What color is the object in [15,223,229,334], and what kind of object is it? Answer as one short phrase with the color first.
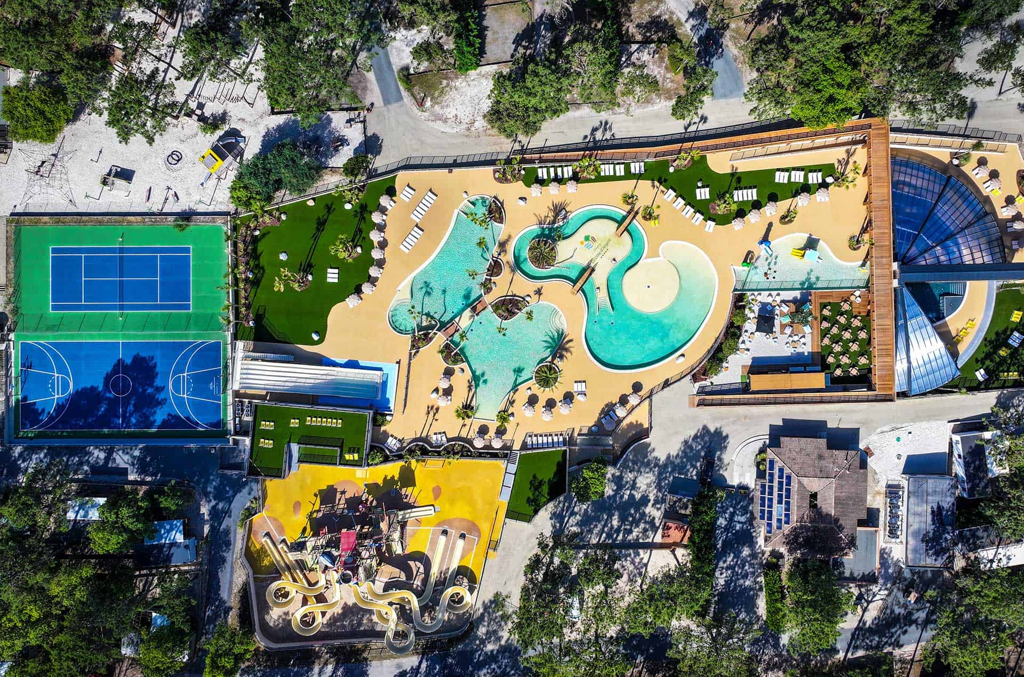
green tennis court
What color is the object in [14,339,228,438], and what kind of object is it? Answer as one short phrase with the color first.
blue basketball court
